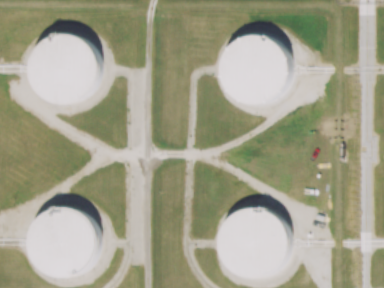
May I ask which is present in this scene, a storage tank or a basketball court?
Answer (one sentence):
This aerial view contains a storage tank.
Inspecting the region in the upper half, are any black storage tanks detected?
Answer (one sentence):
No, I see no black storage tank in the upper half.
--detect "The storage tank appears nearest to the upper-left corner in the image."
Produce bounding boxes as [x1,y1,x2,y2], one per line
[28,34,104,106]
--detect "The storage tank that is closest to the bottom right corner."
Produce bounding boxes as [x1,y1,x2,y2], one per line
[216,206,292,280]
